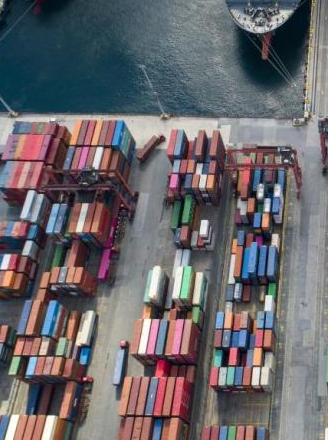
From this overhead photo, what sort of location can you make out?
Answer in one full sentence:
It's a port.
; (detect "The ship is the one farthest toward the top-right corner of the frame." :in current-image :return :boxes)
[221,0,302,61]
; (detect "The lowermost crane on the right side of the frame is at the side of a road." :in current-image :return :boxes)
[219,146,301,201]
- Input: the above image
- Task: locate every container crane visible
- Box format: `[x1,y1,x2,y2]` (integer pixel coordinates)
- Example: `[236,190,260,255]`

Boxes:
[39,167,137,221]
[318,117,328,171]
[219,146,301,201]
